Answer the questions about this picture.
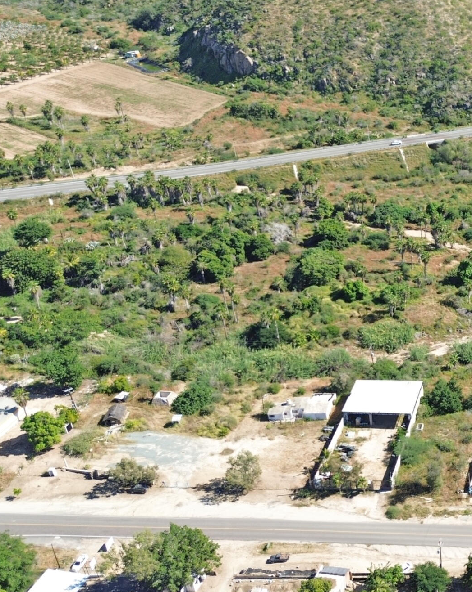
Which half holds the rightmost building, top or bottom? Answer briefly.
bottom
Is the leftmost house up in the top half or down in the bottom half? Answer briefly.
bottom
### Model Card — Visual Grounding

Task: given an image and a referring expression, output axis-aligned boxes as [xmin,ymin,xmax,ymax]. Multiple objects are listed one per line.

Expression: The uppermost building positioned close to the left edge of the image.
[0,398,21,437]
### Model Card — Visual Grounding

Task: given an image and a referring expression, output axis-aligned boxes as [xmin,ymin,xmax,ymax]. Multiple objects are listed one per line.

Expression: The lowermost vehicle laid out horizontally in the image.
[265,553,290,565]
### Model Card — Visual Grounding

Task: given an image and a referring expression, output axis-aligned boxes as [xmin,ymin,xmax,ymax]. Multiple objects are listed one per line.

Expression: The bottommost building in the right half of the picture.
[318,566,350,592]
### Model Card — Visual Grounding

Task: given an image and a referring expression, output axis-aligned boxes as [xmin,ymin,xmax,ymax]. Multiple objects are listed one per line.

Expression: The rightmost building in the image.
[342,380,422,428]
